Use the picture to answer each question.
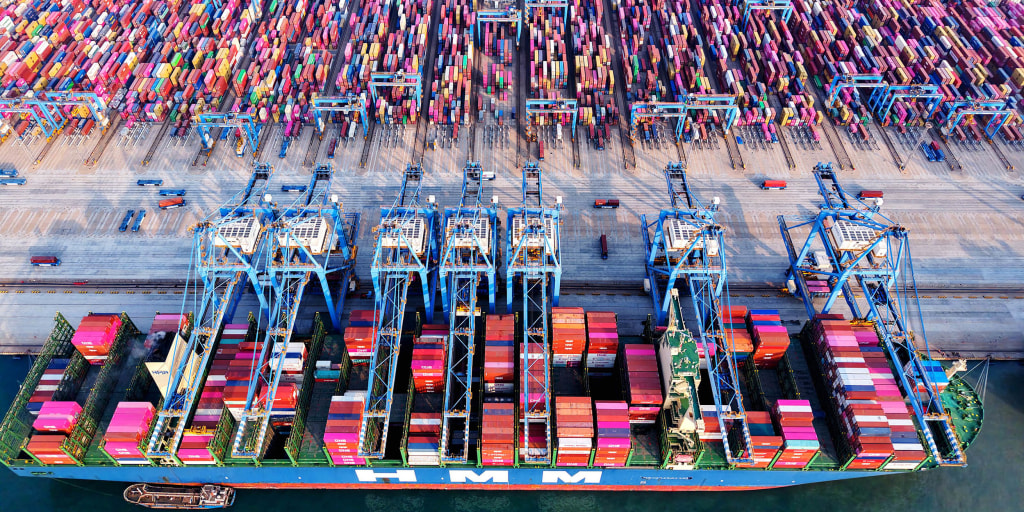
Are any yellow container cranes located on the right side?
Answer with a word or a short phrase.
No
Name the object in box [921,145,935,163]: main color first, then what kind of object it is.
blue vehicle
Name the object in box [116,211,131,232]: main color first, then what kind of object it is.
blue vehicle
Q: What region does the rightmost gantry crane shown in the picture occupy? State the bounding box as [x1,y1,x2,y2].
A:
[935,93,1011,138]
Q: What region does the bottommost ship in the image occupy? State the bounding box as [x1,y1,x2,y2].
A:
[120,485,236,511]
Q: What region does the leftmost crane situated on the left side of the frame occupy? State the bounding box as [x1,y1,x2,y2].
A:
[0,92,59,137]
